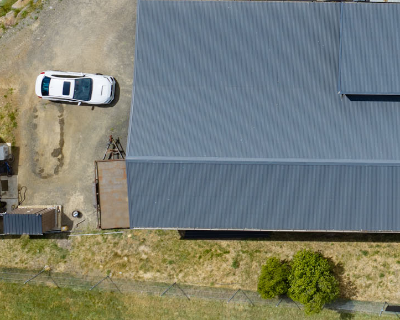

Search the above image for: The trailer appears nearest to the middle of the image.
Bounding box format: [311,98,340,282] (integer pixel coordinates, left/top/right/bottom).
[91,133,129,229]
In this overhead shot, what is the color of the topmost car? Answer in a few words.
white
